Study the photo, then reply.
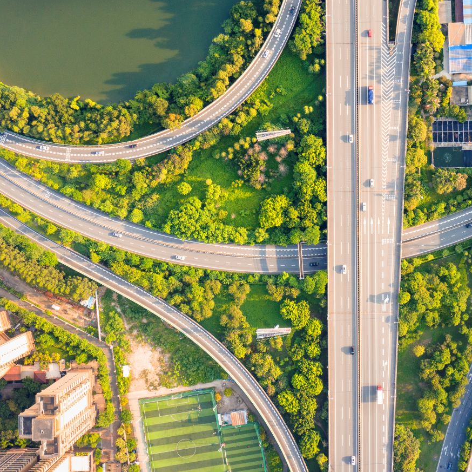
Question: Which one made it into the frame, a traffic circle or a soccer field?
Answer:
soccer field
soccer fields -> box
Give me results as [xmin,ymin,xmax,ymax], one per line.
[143,391,226,472]
[222,424,265,472]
